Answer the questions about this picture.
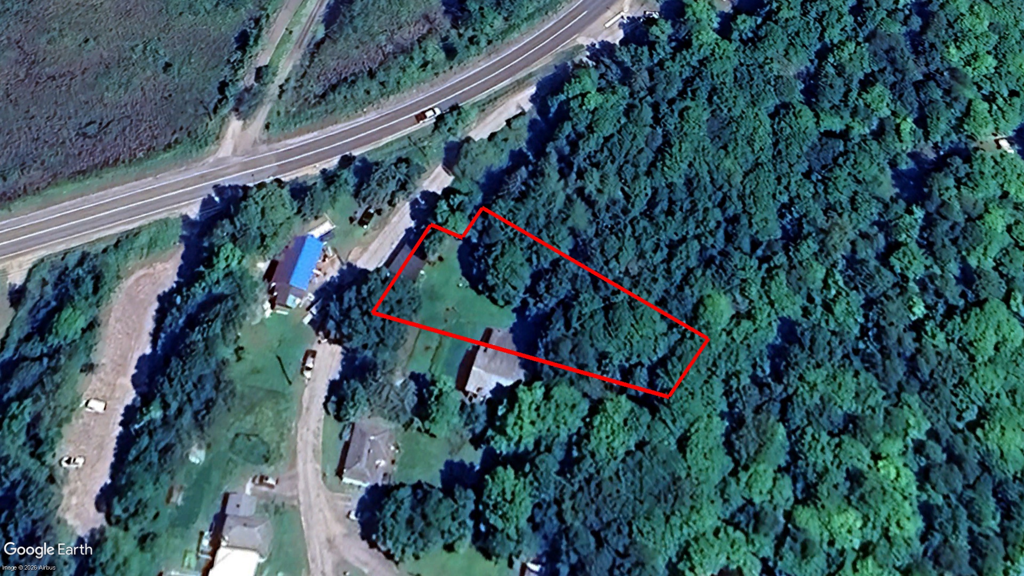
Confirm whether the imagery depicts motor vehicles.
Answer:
Yes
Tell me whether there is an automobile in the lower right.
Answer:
No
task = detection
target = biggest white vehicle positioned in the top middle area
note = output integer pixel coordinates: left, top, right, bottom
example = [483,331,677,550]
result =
[415,107,442,125]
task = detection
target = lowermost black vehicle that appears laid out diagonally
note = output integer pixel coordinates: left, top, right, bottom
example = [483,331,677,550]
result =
[358,206,376,227]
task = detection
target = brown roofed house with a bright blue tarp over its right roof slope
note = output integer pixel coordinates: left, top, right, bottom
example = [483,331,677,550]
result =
[267,234,324,313]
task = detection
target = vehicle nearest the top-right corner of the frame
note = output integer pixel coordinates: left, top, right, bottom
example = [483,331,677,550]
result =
[997,135,1014,155]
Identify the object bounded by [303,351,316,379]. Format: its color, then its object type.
white vehicle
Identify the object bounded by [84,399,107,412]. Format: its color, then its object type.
white vehicle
